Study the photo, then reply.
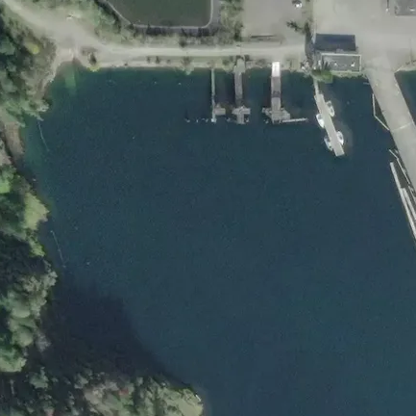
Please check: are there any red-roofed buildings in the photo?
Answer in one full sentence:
No, I can see no red-roofed building in this picture.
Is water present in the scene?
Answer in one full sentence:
Yes, water can be seen from above here.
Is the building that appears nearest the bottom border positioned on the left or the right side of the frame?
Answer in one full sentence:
You can find the building that appears nearest the bottom border on the right side of the picture.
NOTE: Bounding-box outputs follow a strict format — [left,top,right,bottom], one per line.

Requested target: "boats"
[336,132,345,145]
[316,114,326,129]
[325,136,335,151]
[327,101,336,117]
